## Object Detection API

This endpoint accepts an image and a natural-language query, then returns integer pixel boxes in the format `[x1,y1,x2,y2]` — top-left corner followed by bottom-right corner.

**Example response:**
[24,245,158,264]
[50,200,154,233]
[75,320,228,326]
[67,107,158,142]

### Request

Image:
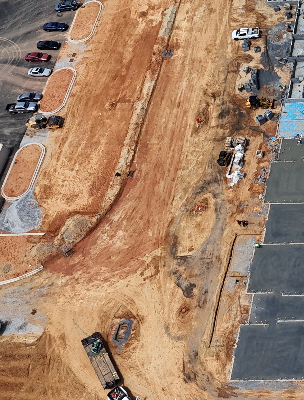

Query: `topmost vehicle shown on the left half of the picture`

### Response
[54,0,80,13]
